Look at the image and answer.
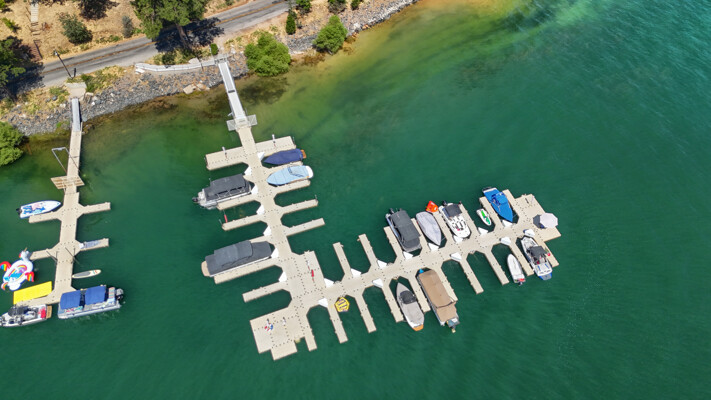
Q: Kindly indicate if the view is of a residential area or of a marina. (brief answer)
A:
marina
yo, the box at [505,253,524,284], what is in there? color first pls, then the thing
white boat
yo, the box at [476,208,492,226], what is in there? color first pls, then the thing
white boat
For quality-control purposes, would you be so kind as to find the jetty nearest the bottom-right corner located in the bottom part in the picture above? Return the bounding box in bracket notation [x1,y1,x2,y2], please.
[206,126,561,361]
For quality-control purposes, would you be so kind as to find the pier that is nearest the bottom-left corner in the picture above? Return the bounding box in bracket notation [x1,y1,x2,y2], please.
[12,131,112,311]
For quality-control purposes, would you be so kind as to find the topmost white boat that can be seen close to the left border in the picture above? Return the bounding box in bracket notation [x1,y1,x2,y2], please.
[15,202,60,217]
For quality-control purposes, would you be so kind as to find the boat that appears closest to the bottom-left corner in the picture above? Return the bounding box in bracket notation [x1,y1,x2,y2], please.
[0,303,51,330]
